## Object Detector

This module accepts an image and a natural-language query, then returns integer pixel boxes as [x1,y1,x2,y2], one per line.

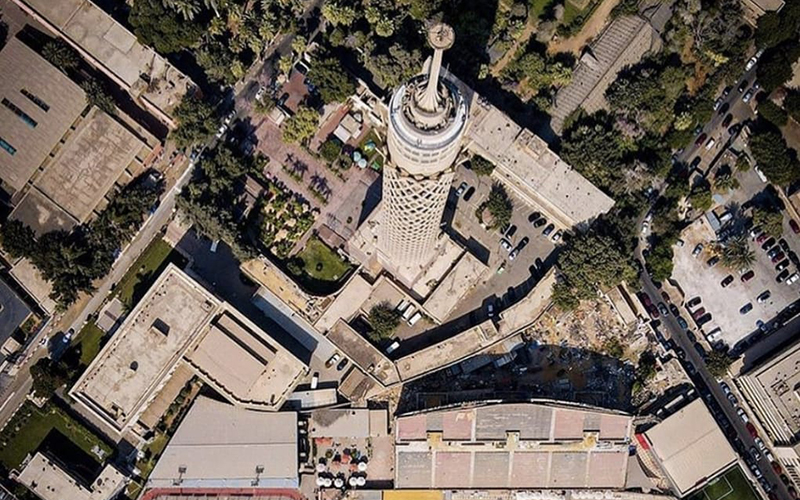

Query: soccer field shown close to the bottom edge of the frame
[684,466,762,500]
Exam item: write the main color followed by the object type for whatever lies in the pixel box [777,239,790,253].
black vehicle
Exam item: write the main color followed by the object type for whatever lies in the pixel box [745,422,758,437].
red vehicle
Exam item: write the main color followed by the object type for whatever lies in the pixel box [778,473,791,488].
black vehicle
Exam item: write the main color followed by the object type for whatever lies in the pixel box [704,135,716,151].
white vehicle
